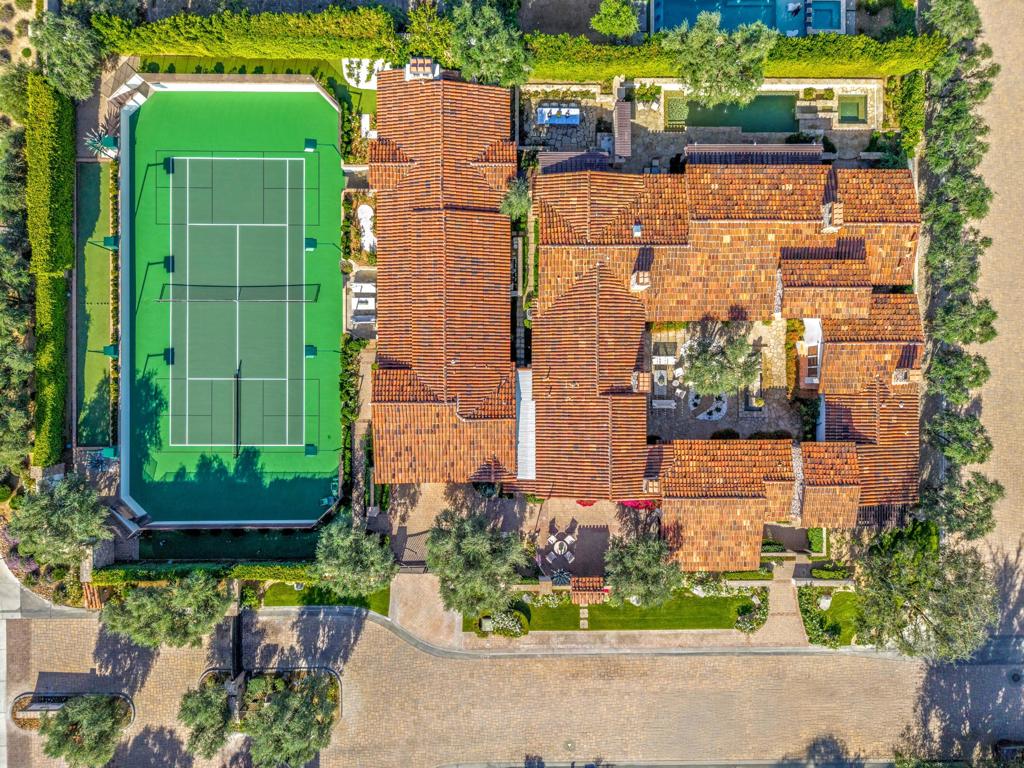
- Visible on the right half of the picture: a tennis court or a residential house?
residential house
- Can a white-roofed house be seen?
No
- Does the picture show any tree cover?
Yes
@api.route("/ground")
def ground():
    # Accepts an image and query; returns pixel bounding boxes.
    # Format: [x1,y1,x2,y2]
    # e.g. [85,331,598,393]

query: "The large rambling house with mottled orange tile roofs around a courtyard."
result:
[503,164,925,572]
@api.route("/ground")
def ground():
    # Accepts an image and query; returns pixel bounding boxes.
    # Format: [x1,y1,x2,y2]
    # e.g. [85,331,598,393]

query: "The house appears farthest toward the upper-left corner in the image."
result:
[368,57,518,484]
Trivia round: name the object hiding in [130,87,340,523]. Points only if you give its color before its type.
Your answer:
green tennis court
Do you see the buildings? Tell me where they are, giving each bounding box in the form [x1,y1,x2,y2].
[503,164,925,572]
[368,57,518,484]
